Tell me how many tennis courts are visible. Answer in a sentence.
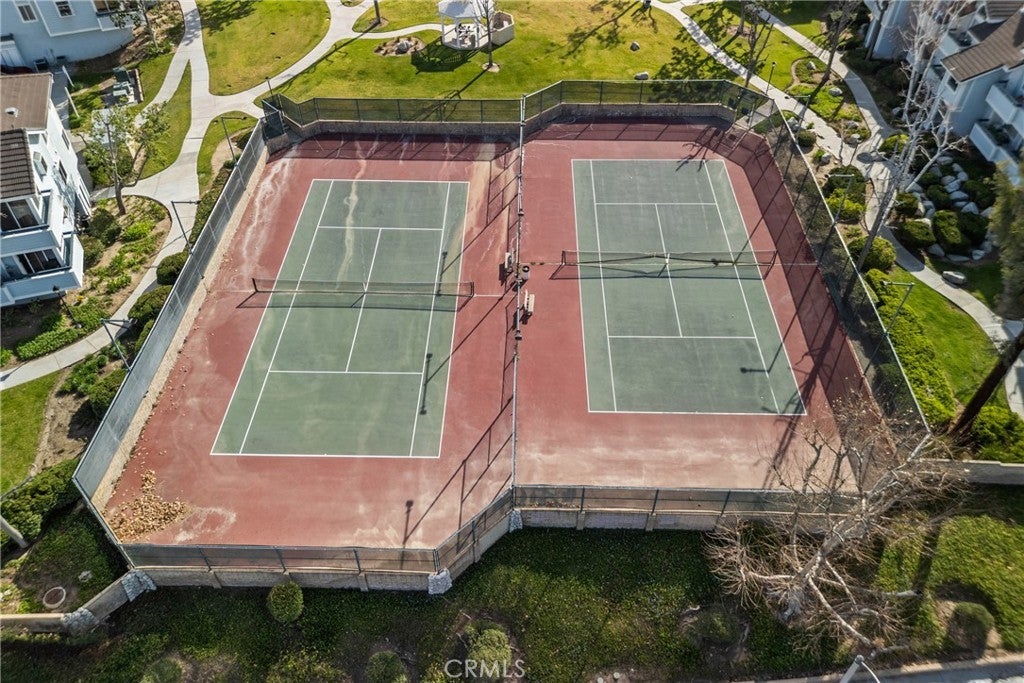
The photo contains 2 tennis courts.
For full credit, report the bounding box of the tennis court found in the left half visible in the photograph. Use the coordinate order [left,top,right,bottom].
[104,134,519,568]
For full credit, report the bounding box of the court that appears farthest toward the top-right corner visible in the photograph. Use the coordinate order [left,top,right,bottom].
[513,117,898,512]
